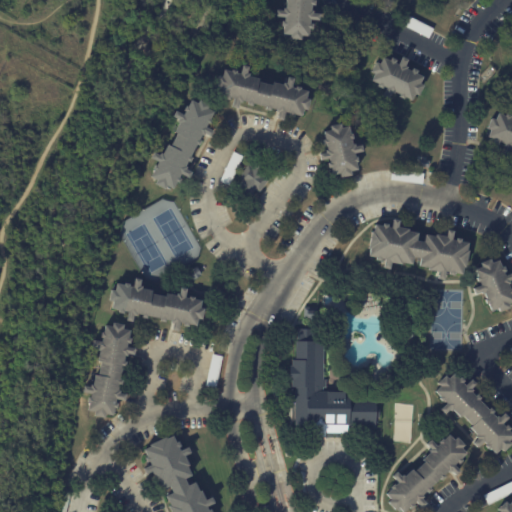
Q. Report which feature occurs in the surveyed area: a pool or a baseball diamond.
pool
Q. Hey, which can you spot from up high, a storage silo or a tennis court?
tennis court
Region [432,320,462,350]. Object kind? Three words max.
basketball court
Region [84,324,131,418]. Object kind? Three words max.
building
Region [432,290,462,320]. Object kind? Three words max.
basketball court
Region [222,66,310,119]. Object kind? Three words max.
building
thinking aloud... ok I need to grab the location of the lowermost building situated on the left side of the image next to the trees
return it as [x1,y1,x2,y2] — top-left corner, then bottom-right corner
[145,436,210,512]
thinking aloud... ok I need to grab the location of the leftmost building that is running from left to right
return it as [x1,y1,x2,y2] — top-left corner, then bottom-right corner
[108,282,204,329]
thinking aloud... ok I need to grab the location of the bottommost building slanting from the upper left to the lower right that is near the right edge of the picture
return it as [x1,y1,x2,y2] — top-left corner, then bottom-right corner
[438,374,512,456]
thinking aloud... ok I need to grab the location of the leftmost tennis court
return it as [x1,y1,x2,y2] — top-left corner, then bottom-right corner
[128,224,164,273]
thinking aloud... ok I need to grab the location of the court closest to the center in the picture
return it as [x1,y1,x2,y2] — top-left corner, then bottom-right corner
[154,210,192,257]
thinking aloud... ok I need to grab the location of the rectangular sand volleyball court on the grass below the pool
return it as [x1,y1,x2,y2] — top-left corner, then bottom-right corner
[392,404,414,444]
